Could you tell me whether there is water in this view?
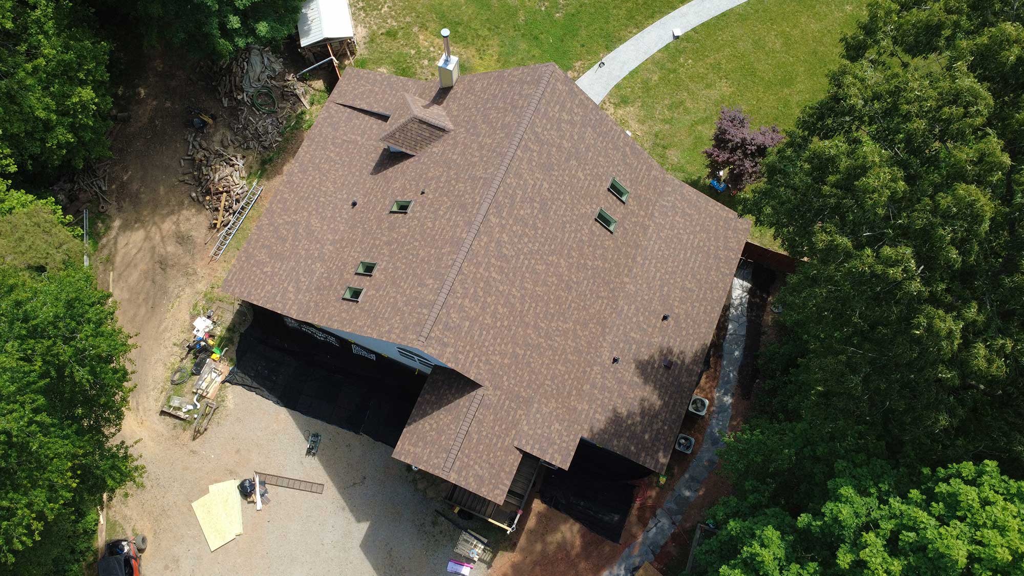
No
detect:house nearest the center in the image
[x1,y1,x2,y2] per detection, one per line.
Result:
[223,22,749,533]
